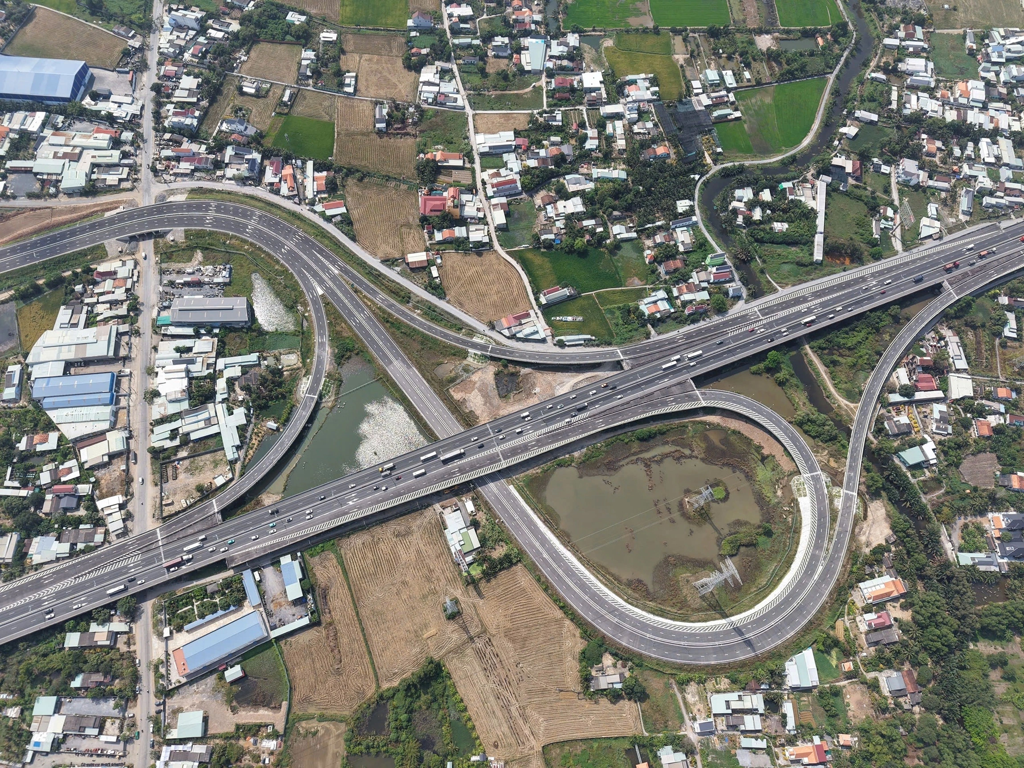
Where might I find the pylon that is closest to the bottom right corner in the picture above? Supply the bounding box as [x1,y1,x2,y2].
[689,554,746,603]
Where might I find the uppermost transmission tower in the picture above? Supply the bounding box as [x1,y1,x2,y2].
[686,481,716,515]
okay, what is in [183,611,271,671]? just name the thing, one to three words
building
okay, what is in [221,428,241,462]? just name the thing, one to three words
house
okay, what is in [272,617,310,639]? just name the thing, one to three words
house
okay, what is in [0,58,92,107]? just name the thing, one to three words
building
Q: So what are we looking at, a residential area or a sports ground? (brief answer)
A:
residential area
